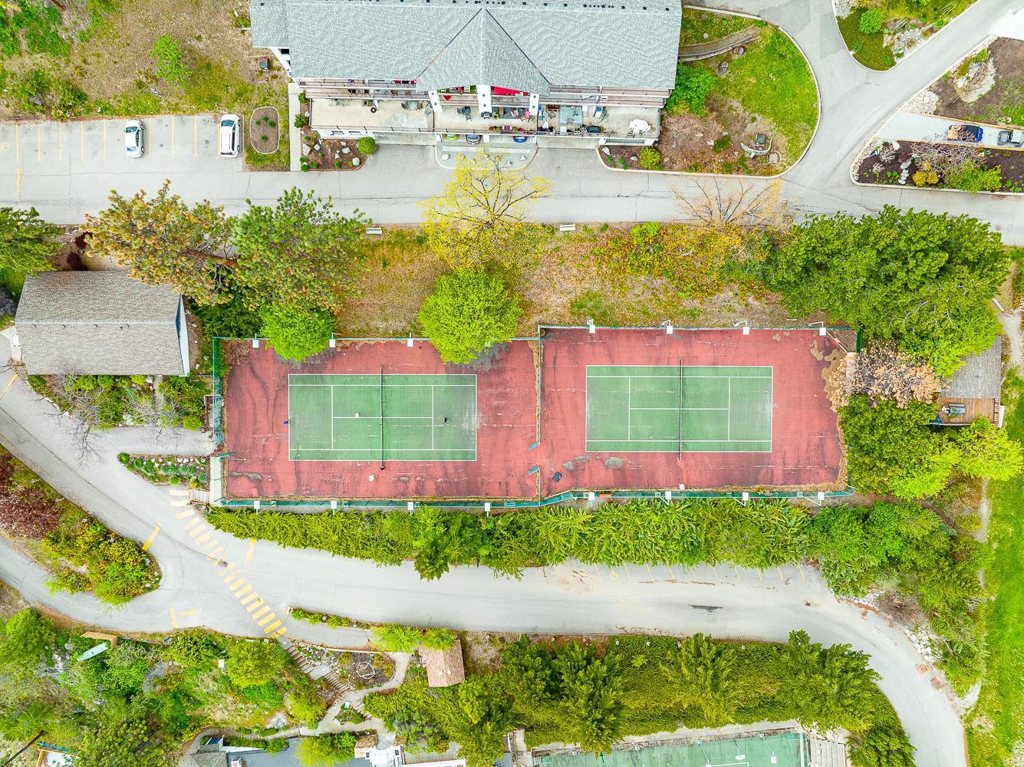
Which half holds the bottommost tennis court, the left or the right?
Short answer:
right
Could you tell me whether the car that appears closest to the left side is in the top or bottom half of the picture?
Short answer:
top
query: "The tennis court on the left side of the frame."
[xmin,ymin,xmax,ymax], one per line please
[219,335,551,501]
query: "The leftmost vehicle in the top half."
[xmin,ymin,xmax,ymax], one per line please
[122,119,144,157]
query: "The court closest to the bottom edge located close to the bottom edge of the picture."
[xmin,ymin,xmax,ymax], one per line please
[538,734,800,767]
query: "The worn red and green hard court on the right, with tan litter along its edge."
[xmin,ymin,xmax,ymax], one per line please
[541,325,852,502]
